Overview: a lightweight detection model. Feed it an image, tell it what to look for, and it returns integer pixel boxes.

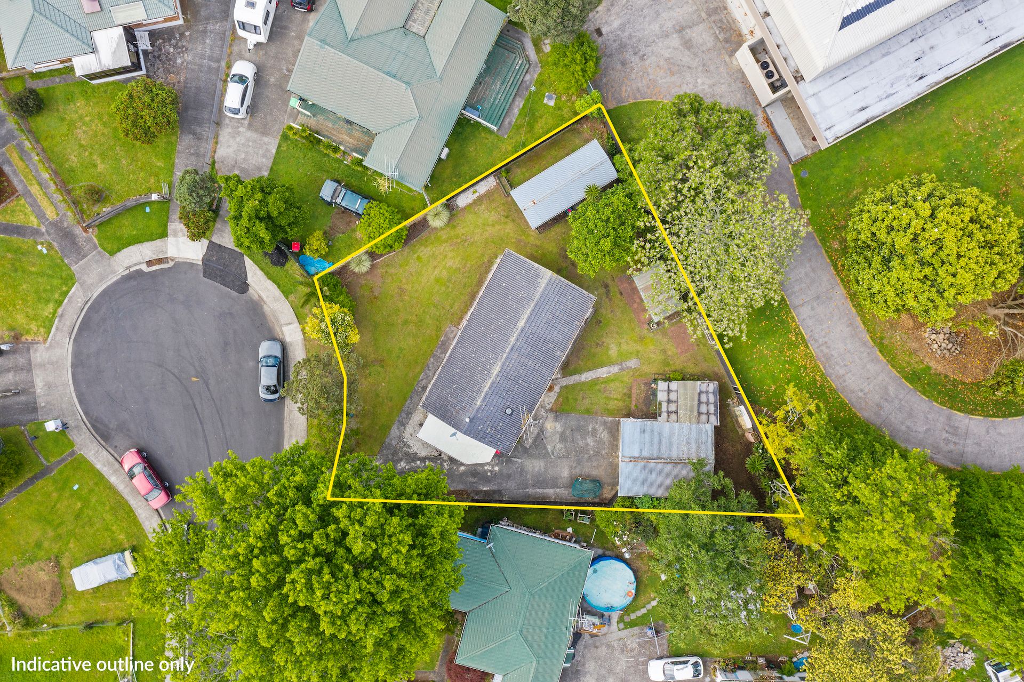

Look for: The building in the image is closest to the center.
[417,248,597,464]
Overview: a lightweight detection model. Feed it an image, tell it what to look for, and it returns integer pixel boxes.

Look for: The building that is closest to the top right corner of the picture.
[728,0,1024,153]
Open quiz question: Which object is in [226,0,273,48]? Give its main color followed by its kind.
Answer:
white camper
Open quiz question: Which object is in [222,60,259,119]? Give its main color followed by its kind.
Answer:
white car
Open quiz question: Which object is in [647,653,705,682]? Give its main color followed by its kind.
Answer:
white car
